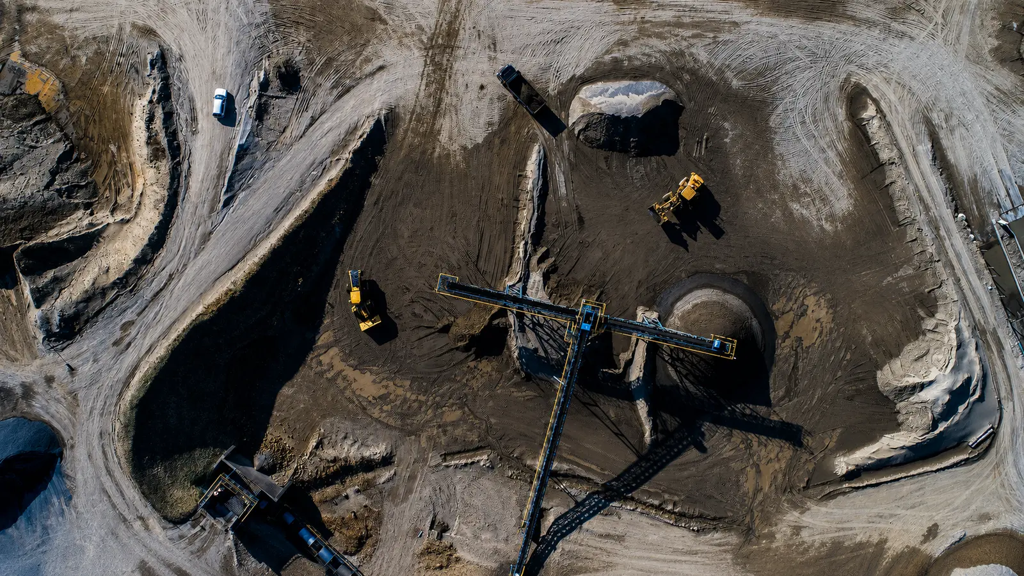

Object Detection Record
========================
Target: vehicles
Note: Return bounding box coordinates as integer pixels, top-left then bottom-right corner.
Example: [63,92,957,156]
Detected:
[346,273,383,335]
[211,88,230,120]
[645,171,705,231]
[496,59,548,116]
